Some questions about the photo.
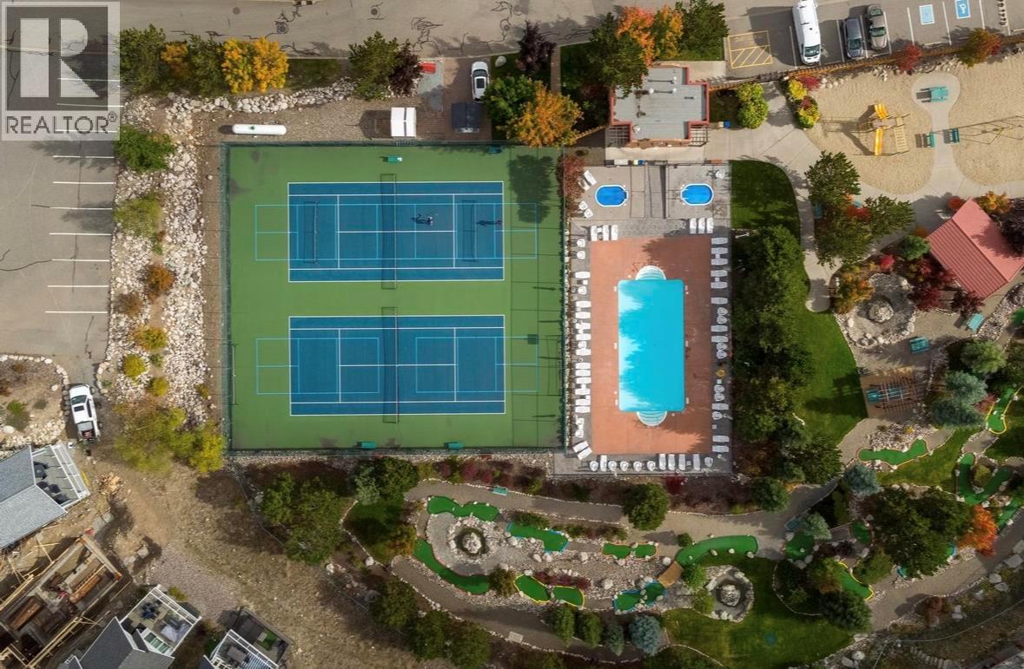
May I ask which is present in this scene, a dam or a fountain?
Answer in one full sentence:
The image shows a fountain.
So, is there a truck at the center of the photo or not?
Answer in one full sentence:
No, at the center of the photo there is no truck.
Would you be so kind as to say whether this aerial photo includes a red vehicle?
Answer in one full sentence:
No, no red vehicle is visible in the view.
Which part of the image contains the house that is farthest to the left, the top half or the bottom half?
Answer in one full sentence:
You can find the house that is farthest to the left in the bottom half.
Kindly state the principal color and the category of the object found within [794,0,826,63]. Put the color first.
white van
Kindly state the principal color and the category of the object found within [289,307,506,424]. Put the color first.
blue tennis court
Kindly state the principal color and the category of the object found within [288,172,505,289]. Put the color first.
blue tennis court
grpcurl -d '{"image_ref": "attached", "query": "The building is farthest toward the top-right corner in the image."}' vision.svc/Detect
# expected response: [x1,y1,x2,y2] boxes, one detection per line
[925,198,1024,299]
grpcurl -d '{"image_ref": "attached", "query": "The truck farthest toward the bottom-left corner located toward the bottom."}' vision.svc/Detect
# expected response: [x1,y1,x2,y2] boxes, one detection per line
[65,386,96,441]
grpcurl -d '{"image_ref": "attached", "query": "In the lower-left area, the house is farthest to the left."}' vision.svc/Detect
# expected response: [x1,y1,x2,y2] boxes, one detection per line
[0,443,92,547]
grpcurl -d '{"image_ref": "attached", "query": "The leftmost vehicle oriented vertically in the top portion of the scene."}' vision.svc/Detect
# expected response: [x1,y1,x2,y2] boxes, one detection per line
[468,58,490,102]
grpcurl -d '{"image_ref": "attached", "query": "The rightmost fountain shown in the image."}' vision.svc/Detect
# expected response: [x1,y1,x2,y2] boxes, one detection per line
[861,290,900,330]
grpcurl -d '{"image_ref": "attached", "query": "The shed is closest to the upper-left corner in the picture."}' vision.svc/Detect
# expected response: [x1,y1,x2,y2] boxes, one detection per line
[391,105,419,140]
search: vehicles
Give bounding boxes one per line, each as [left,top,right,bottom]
[794,0,826,63]
[468,58,490,102]
[65,386,96,441]
[867,3,892,48]
[843,14,869,58]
